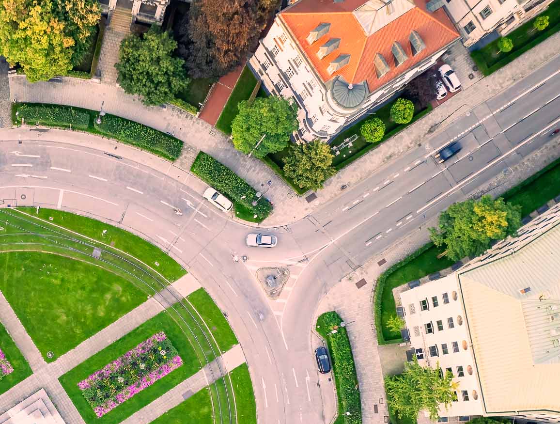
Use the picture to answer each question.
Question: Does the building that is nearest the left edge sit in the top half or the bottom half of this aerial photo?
top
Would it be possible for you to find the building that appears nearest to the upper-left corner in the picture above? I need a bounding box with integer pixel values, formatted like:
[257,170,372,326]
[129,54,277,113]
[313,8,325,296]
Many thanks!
[89,0,170,38]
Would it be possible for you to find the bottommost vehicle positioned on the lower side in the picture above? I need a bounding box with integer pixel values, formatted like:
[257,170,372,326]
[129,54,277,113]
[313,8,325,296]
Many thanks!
[315,347,329,374]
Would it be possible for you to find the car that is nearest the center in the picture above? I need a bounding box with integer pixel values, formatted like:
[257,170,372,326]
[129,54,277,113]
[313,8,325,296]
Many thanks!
[244,233,278,248]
